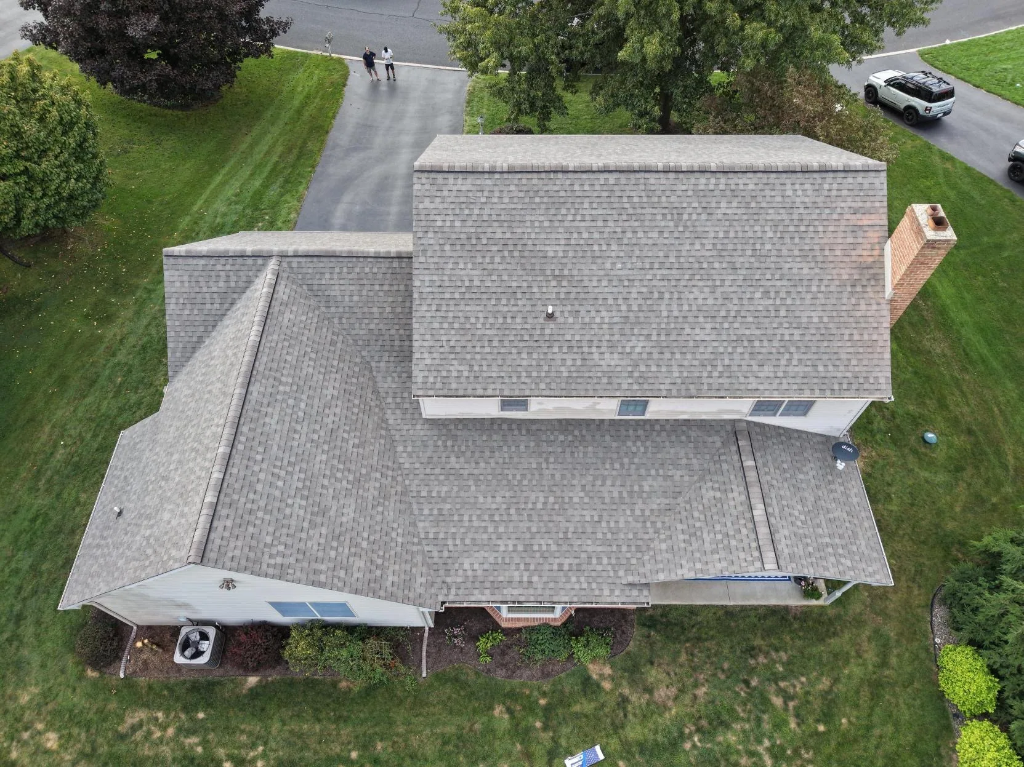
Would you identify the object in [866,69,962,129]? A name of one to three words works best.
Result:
car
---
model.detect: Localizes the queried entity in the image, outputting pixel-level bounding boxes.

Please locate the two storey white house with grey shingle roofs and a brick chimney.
[54,133,959,632]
